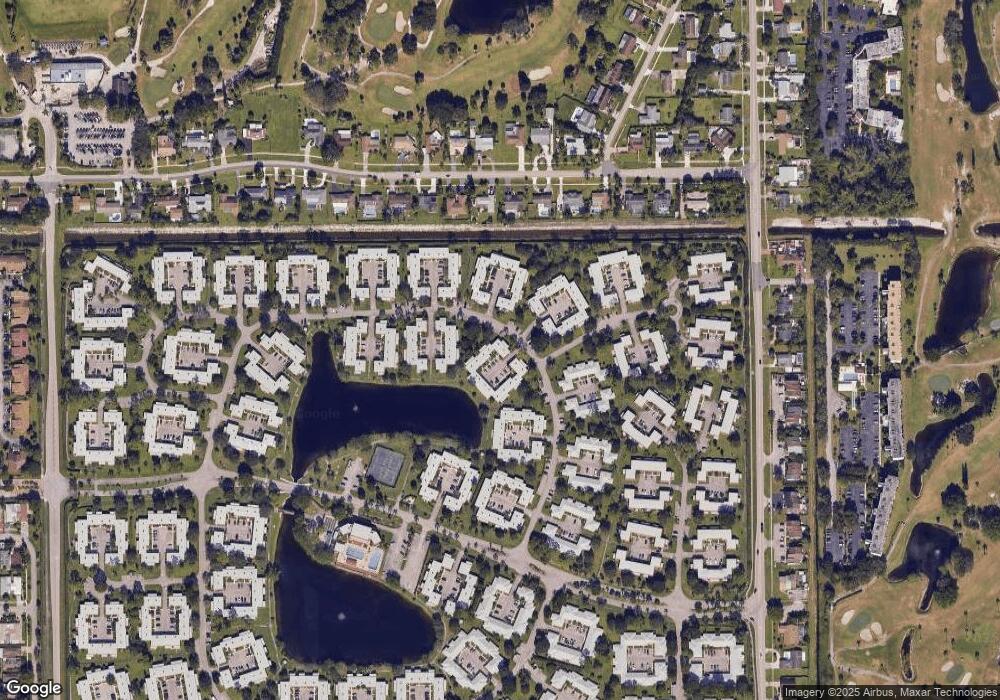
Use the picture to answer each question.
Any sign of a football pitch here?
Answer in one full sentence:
No, there appears to be no football pitch in this shot.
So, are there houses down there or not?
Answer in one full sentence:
Yes, looking at the shot, I can spot a house.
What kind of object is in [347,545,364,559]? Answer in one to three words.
swimming pool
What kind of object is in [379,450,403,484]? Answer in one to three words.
tennis court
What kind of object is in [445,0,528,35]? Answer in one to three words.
pond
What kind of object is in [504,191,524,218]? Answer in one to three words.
house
